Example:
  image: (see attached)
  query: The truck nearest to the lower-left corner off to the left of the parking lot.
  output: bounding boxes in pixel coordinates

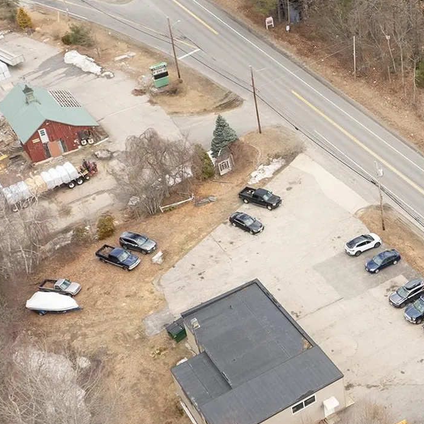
[38,271,84,295]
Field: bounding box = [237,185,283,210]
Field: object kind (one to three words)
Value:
truck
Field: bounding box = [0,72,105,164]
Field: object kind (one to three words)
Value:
barn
